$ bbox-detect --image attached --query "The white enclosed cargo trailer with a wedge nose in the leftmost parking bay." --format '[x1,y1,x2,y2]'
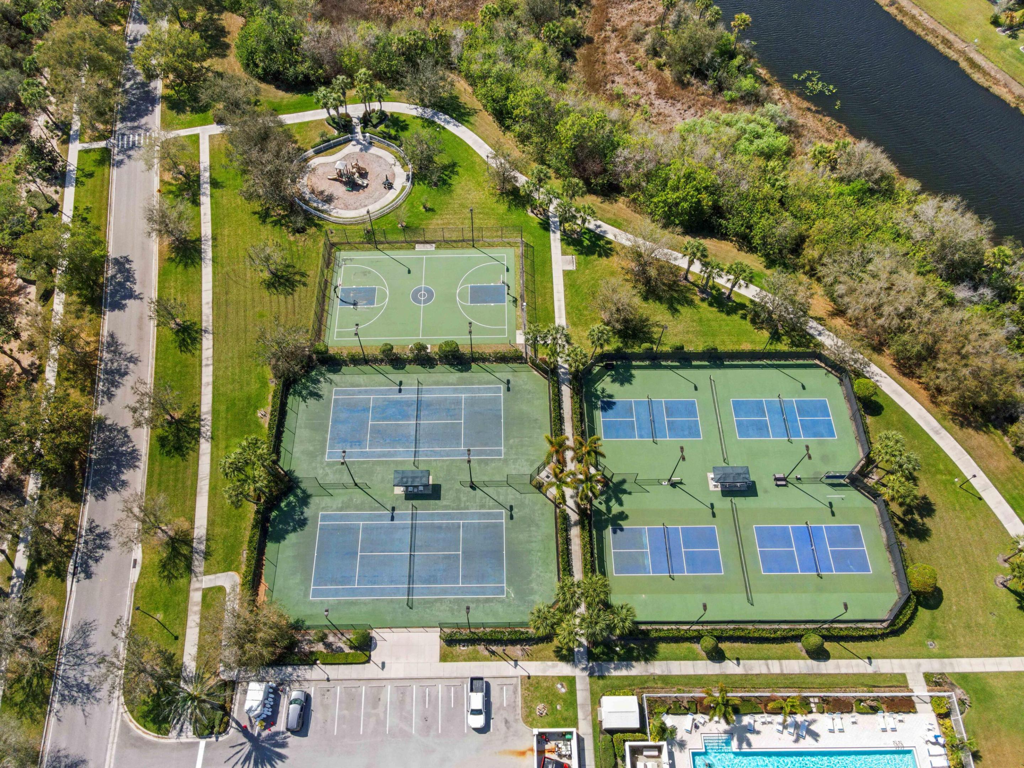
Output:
[242,682,269,727]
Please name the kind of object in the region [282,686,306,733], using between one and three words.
car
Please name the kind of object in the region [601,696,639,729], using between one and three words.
shed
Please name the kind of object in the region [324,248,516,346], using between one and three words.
basketball court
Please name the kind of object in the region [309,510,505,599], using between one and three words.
tennis court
